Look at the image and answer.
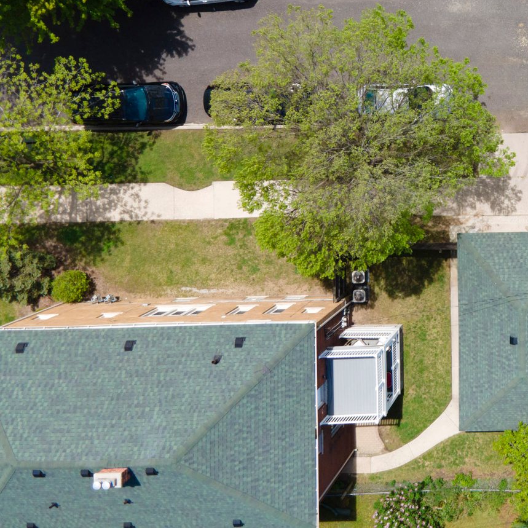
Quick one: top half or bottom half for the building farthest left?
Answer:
bottom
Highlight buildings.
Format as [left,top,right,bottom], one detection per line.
[457,229,528,433]
[0,297,353,528]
